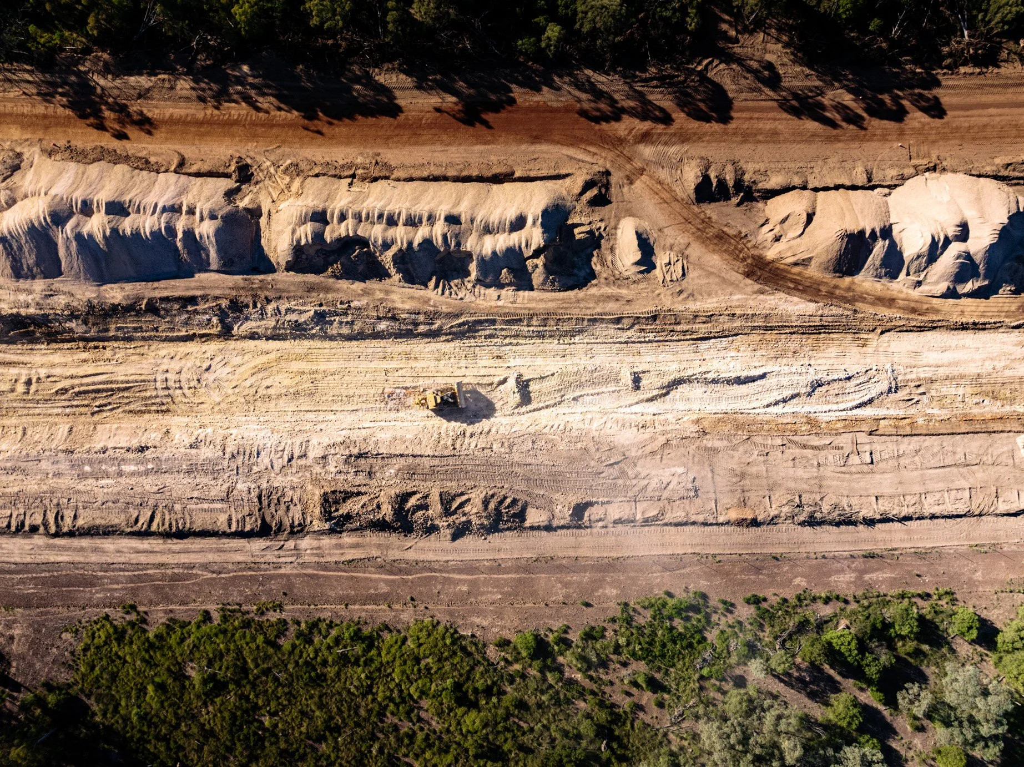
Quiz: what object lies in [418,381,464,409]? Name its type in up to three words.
work vehicle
